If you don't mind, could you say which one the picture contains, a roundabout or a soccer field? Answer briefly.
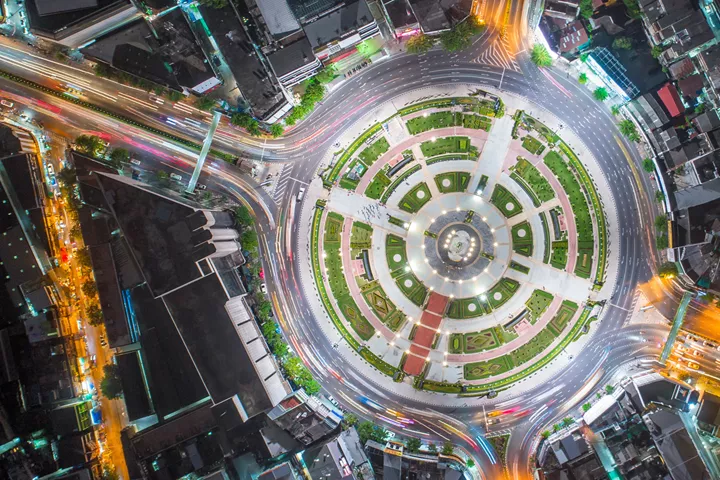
roundabout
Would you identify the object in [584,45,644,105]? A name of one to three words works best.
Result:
building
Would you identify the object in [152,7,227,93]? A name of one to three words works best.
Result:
building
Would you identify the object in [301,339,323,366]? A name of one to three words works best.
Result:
bus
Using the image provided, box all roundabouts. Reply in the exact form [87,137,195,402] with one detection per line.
[297,84,621,407]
